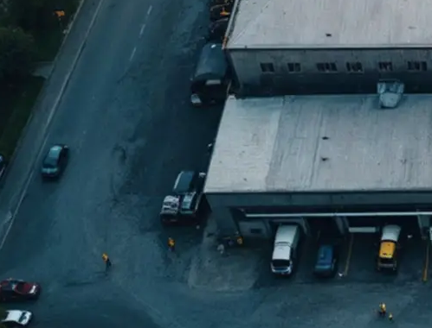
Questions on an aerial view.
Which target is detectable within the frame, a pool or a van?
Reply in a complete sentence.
I can see a van in this picture.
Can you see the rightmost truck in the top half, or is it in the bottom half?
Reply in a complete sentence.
The rightmost truck is in the bottom half of the image.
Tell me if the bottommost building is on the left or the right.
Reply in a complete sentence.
The bottommost building is on the right side of the image.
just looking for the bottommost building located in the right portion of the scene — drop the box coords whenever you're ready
[203,79,432,234]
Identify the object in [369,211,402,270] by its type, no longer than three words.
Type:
truck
